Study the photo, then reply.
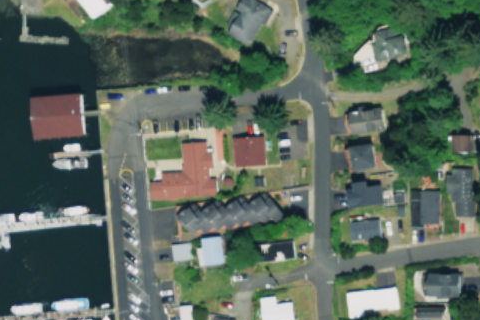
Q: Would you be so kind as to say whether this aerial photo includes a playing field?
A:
No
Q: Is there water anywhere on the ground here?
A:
Yes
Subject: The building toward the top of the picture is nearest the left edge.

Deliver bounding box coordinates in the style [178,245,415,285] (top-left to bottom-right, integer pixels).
[30,94,84,140]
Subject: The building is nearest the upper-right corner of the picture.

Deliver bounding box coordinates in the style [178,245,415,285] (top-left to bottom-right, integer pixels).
[372,28,408,62]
